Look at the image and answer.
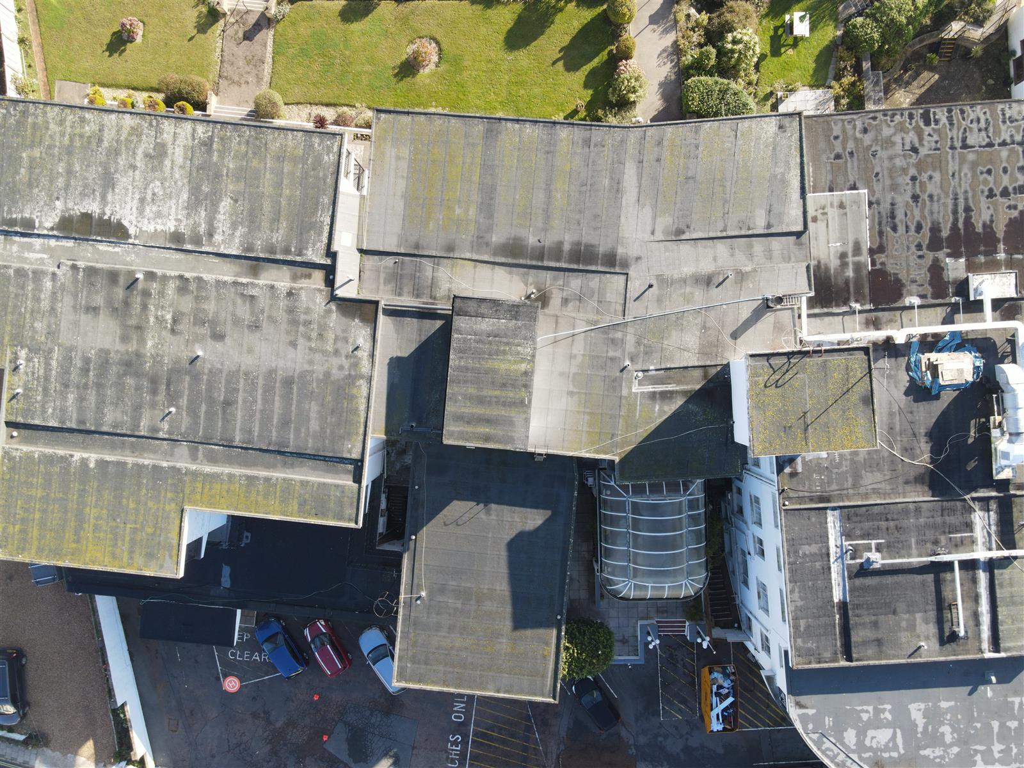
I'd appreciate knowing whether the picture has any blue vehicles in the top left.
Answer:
No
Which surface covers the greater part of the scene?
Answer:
buildings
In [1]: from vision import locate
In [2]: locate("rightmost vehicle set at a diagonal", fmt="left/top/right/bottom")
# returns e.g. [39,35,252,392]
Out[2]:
[570,675,627,745]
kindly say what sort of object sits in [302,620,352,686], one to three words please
car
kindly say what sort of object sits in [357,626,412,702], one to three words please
car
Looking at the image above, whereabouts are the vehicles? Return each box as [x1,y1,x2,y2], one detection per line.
[570,675,627,745]
[253,618,309,686]
[0,650,26,731]
[357,626,412,702]
[302,620,352,686]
